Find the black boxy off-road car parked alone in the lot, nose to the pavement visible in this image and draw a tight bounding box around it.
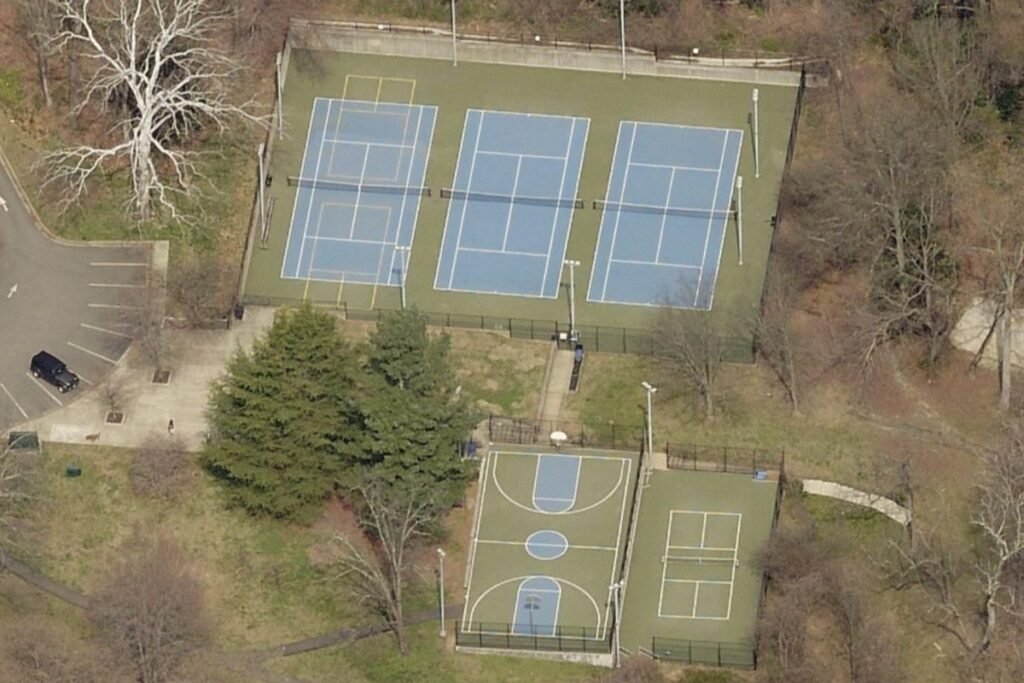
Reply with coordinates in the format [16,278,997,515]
[30,348,79,390]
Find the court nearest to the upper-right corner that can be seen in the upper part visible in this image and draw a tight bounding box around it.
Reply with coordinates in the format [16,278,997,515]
[588,121,743,310]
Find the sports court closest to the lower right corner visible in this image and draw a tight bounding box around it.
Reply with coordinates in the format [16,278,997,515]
[658,511,742,620]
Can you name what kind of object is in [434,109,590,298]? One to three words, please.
tennis court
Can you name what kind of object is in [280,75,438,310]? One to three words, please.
tennis court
